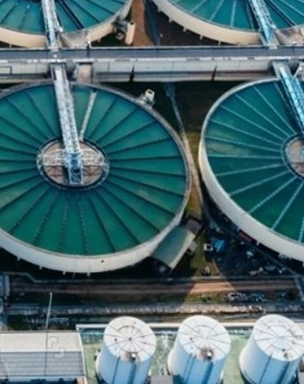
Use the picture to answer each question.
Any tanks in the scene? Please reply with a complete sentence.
Yes, looking at the shot, I can spot a tank.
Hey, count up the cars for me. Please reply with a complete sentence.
Not a single car can be seen.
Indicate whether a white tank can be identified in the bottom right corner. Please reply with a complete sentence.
Yes, a white tank is visible in the bottom right corner.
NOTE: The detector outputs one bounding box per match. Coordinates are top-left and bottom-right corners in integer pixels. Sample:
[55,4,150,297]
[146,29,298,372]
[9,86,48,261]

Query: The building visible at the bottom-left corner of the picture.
[0,330,88,384]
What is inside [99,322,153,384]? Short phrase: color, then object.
white storage tank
